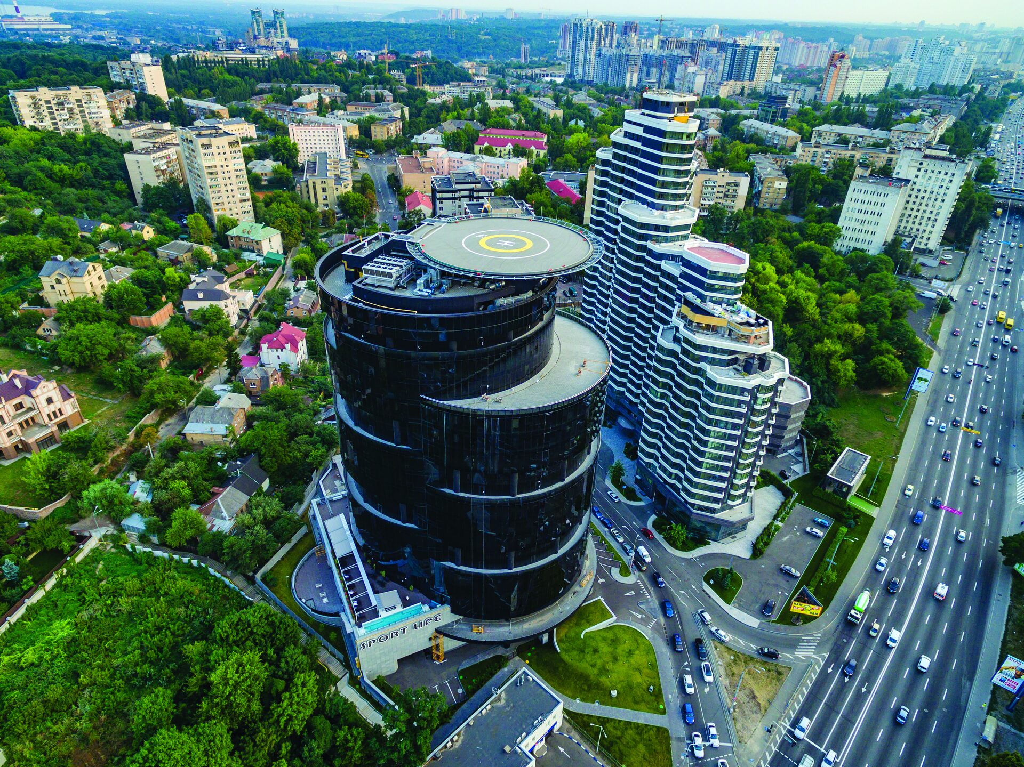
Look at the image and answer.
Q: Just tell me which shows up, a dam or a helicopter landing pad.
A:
helicopter landing pad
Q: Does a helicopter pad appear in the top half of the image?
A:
Yes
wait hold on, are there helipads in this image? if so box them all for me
[382,214,603,306]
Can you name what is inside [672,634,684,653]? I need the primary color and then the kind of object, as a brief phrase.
blue vehicle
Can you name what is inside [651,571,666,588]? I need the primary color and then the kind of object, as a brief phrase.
blue car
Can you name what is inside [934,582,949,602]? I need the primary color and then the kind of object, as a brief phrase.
white vehicle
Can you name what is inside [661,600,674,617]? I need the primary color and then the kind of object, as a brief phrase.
blue vehicle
